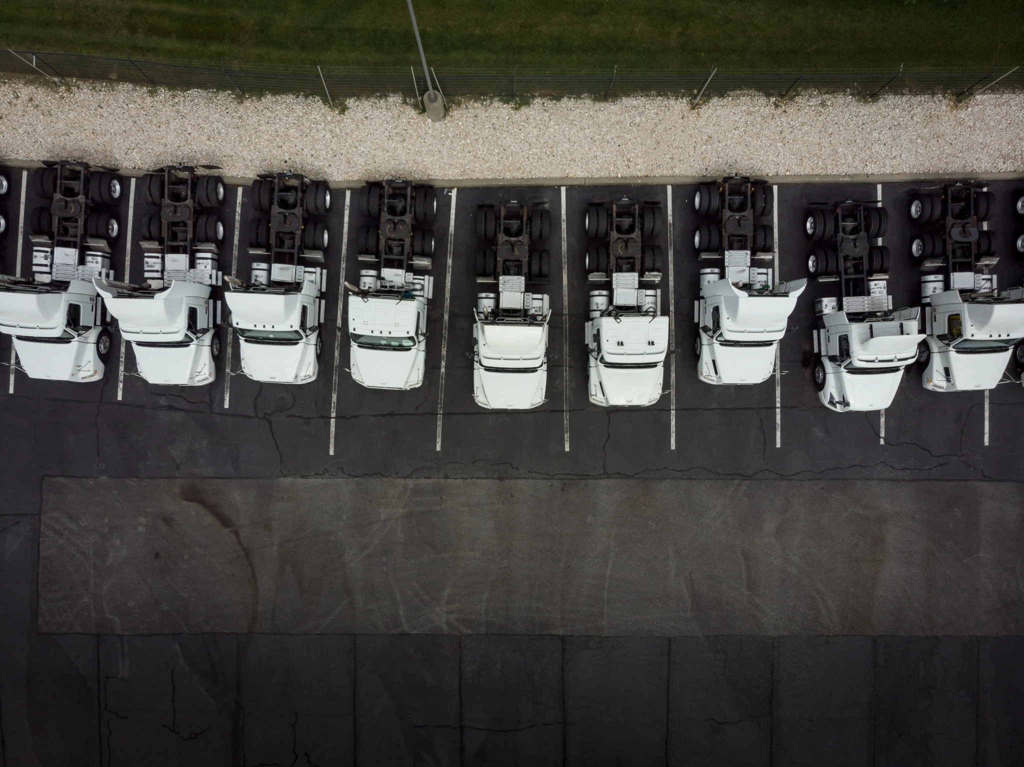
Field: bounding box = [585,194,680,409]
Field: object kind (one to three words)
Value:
truck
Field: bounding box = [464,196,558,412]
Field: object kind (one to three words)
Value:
truck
